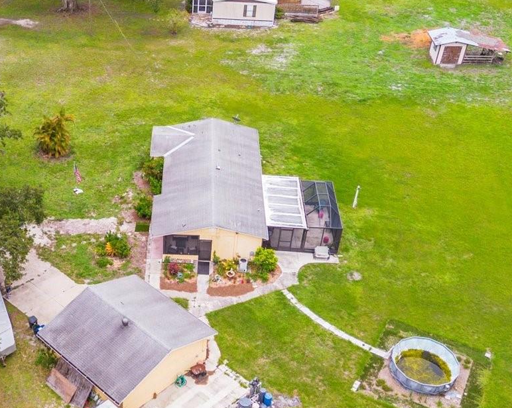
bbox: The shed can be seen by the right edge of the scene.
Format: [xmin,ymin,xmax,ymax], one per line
[427,25,504,67]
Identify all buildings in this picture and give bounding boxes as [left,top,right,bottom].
[36,273,217,408]
[427,25,504,67]
[192,0,279,26]
[149,116,308,262]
